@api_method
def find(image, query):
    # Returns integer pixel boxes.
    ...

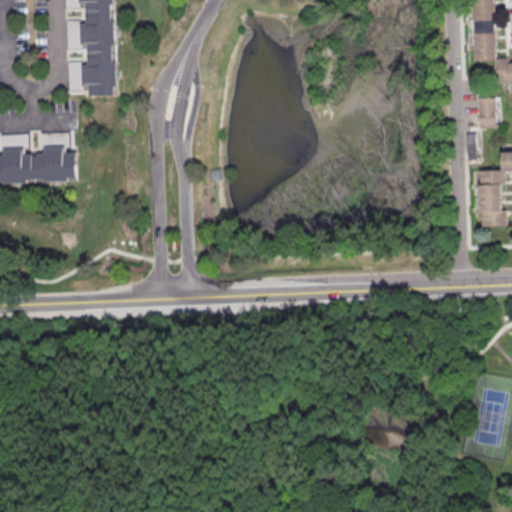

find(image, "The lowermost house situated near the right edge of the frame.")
[478,170,510,226]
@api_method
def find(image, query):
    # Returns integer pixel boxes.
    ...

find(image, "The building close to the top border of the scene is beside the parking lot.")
[65,0,120,98]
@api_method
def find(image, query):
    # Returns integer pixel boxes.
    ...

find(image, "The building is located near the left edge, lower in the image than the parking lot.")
[0,130,78,187]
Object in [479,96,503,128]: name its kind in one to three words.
house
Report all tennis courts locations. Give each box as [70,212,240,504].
[466,376,512,462]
